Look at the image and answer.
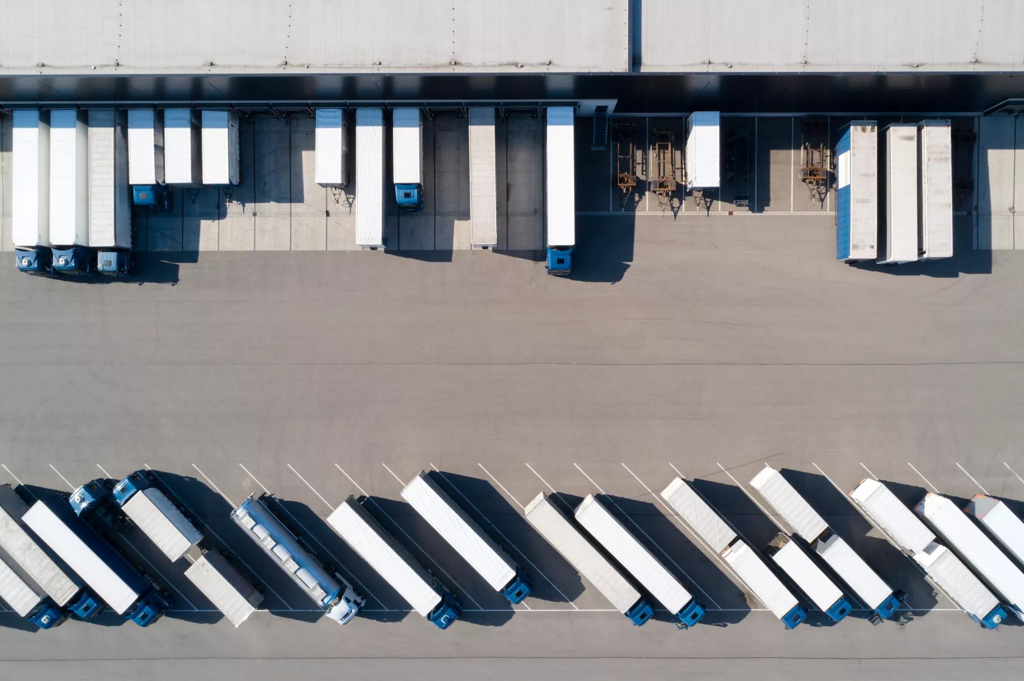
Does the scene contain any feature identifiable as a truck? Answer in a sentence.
Yes, there's a truck here.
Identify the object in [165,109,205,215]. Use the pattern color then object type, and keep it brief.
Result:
white trailer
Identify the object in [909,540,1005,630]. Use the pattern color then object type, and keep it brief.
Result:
white truck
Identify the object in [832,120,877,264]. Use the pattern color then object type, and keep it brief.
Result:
white trailer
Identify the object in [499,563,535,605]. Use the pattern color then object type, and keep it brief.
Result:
blue truck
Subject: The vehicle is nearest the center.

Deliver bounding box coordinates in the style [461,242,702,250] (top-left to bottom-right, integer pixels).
[546,245,575,277]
